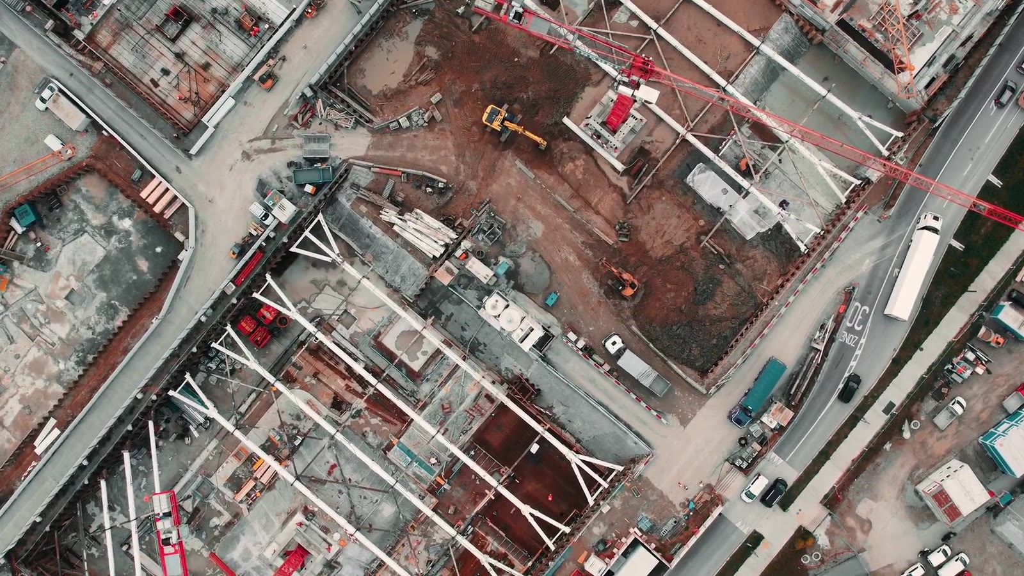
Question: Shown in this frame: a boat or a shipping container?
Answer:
shipping container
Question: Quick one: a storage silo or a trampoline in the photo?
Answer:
storage silo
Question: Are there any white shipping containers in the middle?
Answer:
Yes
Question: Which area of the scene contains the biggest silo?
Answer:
center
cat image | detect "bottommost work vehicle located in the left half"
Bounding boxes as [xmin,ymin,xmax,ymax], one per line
[226,233,258,259]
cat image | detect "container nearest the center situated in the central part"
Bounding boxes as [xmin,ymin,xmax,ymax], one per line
[464,256,496,284]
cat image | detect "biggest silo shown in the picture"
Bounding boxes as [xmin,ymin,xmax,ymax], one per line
[495,301,528,335]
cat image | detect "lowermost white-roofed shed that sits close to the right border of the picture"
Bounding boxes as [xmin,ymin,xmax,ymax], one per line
[912,455,993,528]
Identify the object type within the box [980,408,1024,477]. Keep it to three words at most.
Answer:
building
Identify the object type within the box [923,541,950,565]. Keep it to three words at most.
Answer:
car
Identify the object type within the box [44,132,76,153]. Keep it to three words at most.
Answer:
vehicle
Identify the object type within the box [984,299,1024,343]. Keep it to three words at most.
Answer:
building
